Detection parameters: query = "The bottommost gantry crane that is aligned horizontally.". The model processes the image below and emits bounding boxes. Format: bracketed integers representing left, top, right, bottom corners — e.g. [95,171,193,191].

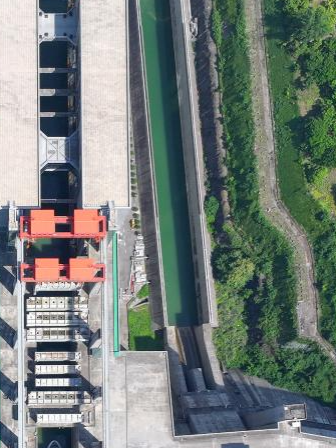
[20,259,106,283]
